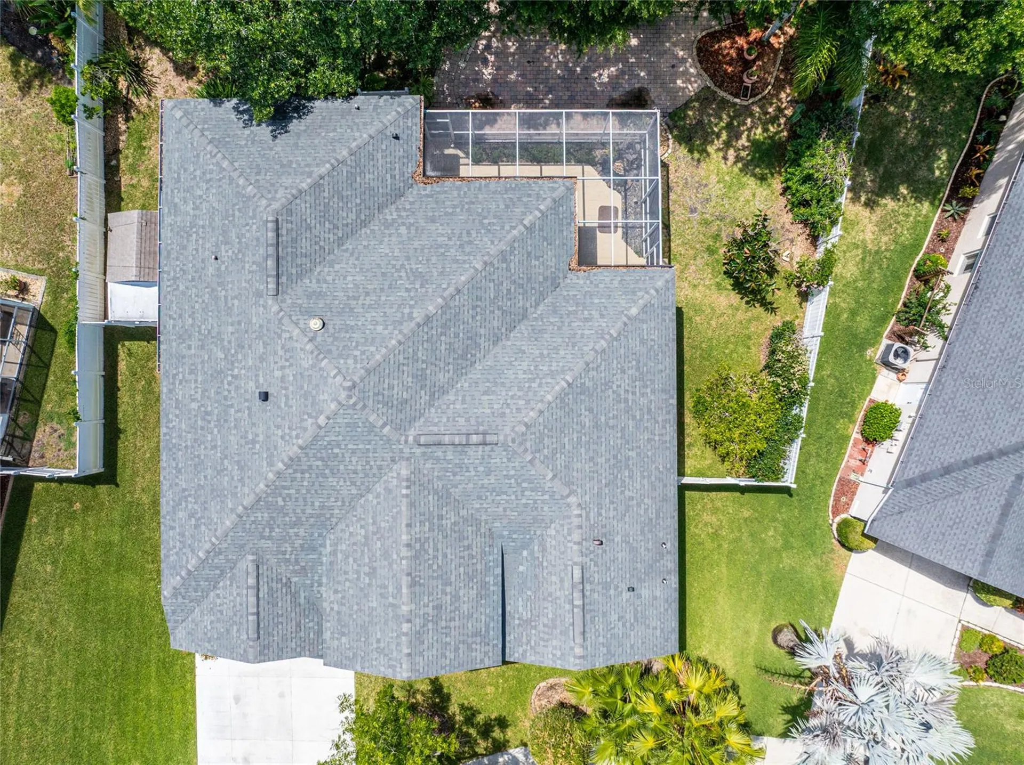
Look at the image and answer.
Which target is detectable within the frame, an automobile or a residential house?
residential house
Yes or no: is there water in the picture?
No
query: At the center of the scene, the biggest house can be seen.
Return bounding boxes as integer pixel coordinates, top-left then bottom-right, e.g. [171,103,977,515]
[158,96,677,681]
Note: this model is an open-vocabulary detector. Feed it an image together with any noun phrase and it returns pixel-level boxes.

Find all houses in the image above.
[848,86,1024,603]
[158,96,677,681]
